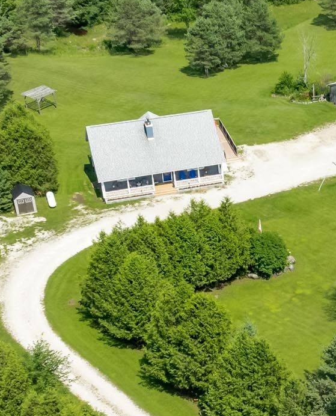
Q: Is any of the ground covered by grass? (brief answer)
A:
Yes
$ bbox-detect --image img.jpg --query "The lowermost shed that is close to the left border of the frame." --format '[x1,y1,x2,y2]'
[11,179,38,216]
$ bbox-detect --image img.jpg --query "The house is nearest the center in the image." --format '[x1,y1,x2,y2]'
[85,108,246,203]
